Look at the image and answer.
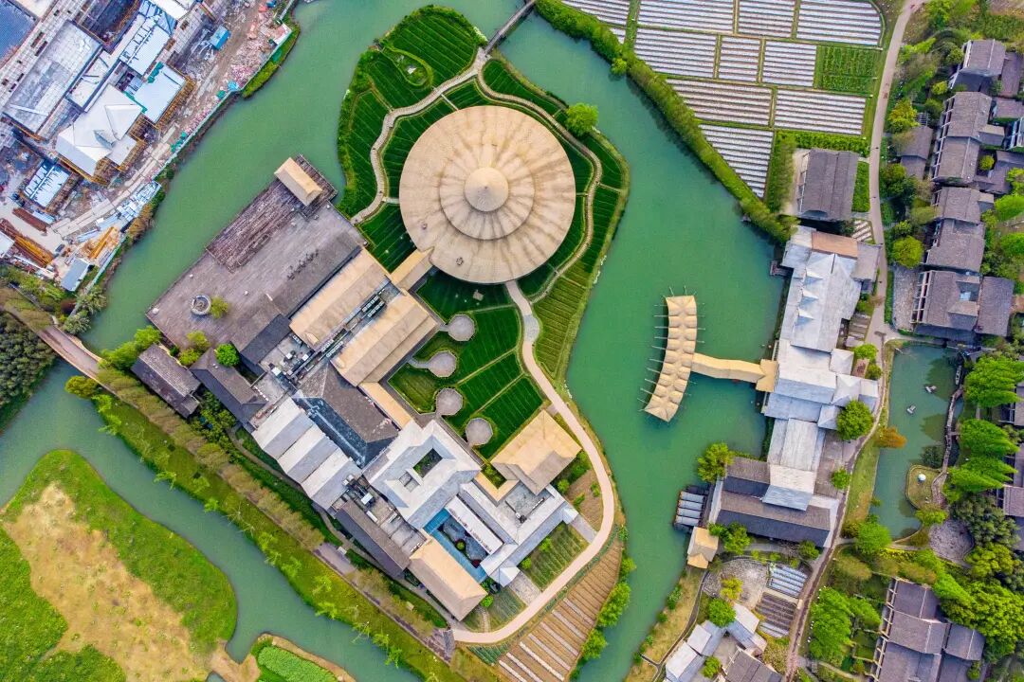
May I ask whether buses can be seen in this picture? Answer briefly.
No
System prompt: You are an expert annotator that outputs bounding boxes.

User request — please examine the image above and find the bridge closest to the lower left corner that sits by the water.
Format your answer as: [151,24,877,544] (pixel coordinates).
[31,315,115,390]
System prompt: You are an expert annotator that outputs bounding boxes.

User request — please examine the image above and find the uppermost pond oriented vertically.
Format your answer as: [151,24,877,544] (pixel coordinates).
[870,343,962,538]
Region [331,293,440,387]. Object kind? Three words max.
building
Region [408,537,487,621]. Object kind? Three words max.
building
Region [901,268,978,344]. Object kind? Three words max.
house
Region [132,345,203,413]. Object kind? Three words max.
house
